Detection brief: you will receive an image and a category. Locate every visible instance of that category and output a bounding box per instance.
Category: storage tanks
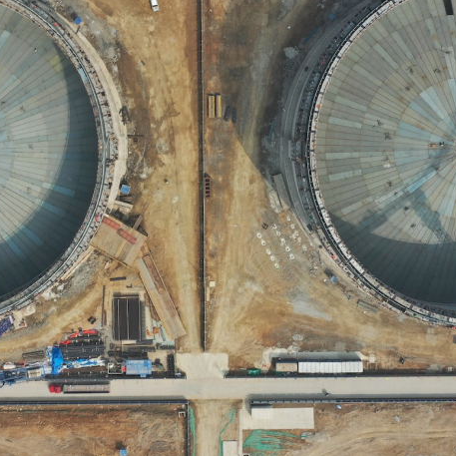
[0,0,126,315]
[280,0,456,328]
